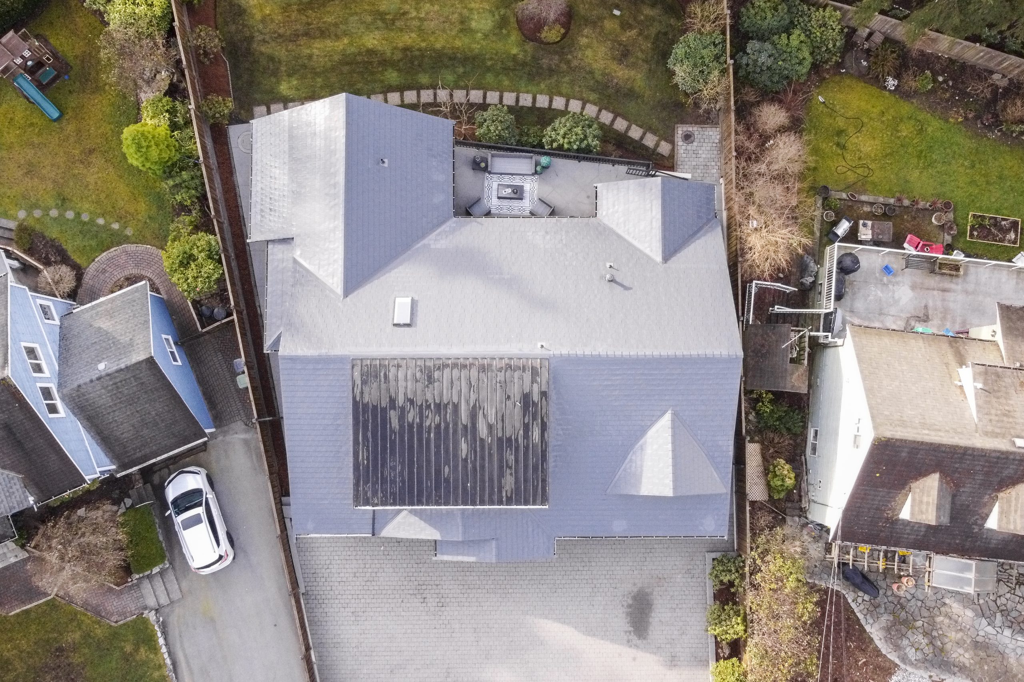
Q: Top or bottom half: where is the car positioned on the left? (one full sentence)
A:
It is in the bottom half that the car positioned on the left appears.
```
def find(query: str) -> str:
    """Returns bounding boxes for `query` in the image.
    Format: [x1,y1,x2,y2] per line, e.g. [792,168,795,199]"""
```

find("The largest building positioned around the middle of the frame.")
[244,91,744,563]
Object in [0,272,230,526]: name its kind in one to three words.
house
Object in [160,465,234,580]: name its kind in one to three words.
car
